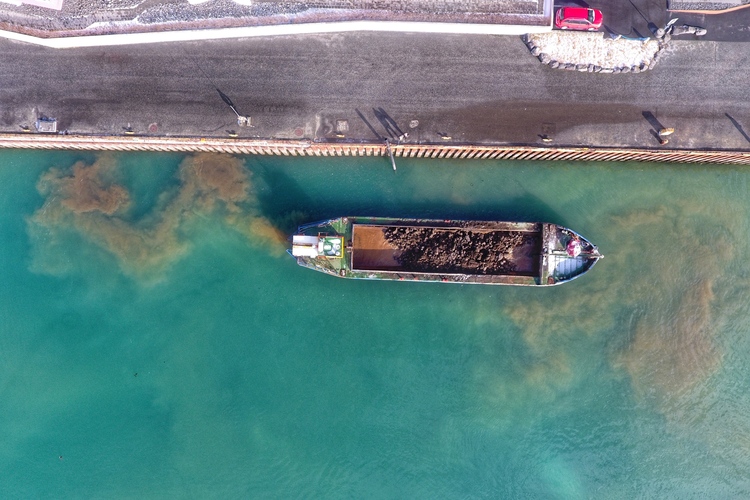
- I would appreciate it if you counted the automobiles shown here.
1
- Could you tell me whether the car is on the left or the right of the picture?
right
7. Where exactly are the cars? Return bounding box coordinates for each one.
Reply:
[554,6,603,33]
